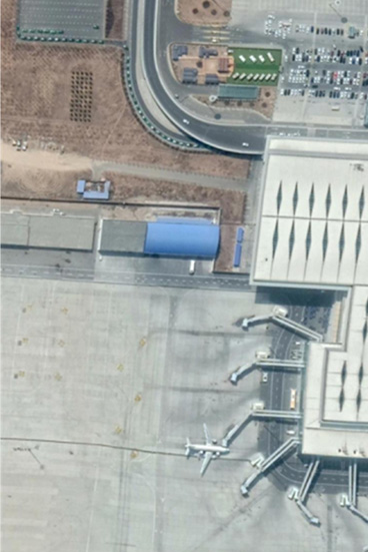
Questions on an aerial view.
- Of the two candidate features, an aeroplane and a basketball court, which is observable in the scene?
aeroplane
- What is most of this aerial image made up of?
paved ground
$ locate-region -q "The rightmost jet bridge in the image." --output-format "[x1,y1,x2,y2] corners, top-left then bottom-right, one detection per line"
[338,460,368,521]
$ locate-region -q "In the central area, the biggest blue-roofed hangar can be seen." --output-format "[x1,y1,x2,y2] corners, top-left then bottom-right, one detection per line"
[143,222,220,258]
